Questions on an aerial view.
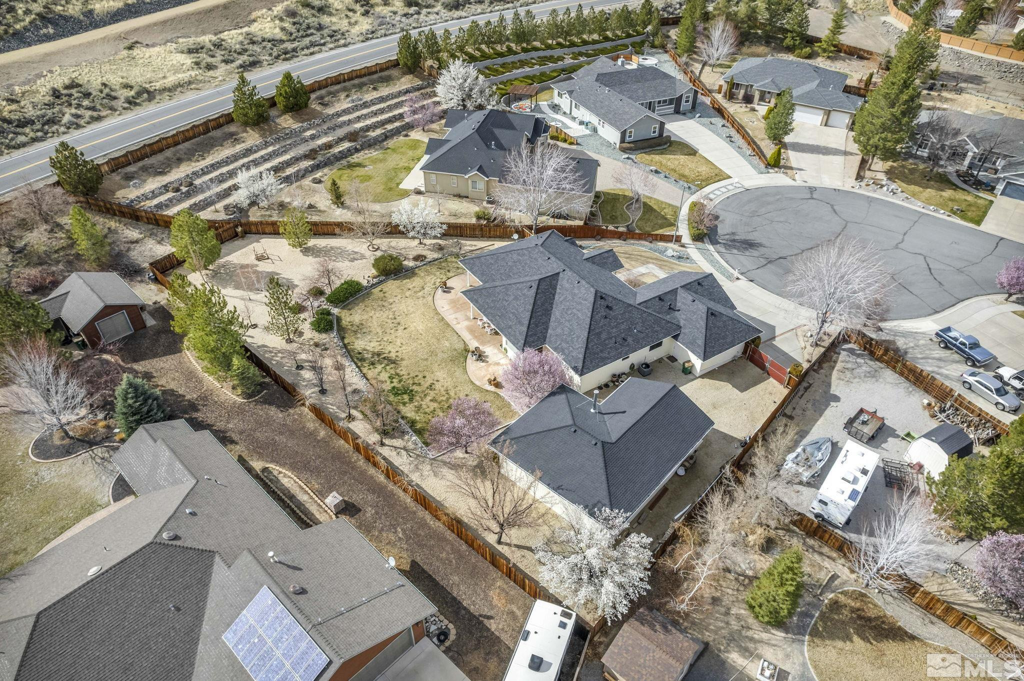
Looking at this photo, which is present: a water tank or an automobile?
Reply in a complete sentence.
Of the two, only an automobile appears.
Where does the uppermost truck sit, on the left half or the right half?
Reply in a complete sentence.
The uppermost truck sits on the right side.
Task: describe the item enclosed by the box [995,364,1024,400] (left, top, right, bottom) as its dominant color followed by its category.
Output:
white car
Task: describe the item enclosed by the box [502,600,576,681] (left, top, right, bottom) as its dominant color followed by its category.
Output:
white camper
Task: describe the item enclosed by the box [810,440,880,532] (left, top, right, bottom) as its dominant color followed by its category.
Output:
white trailer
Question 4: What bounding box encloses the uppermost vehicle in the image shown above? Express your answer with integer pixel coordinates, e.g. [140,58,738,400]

[932,324,1001,370]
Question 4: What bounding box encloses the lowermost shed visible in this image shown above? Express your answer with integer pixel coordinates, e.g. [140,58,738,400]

[600,607,701,681]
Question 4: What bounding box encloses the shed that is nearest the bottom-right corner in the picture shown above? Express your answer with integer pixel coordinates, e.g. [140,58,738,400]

[896,420,956,472]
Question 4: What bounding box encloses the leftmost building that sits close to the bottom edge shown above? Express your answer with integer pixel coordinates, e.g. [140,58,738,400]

[0,418,439,681]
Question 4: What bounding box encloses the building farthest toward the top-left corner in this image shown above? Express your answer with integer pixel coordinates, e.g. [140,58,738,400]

[35,271,148,351]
